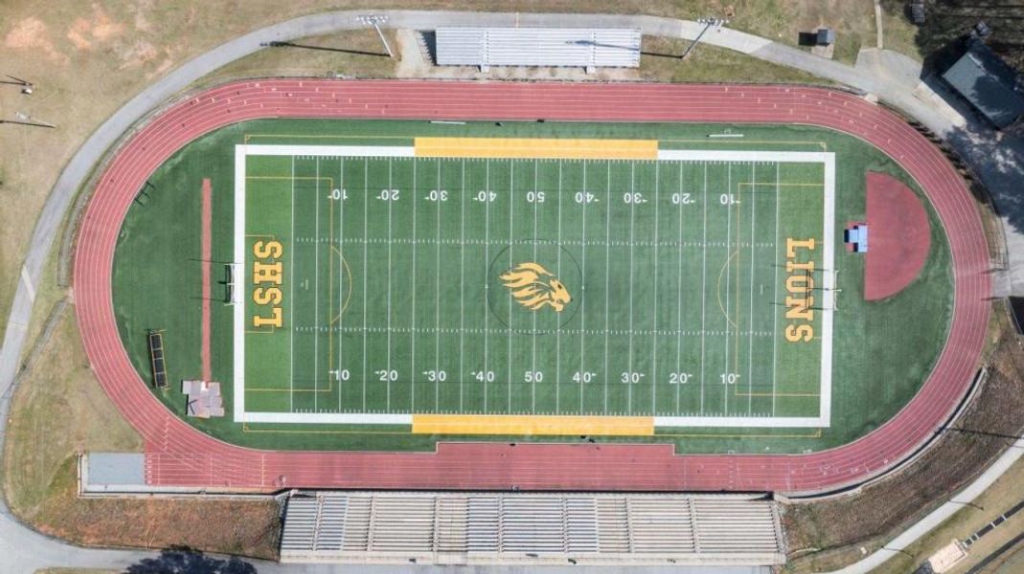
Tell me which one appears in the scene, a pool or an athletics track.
athletics track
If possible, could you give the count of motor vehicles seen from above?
zero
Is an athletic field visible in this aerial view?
Yes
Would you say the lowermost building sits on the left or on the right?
right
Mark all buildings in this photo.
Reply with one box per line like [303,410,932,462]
[812,28,830,46]
[941,38,1024,127]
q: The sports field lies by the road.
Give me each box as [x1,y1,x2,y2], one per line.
[113,116,954,456]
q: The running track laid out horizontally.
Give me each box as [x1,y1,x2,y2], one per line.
[74,77,993,494]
